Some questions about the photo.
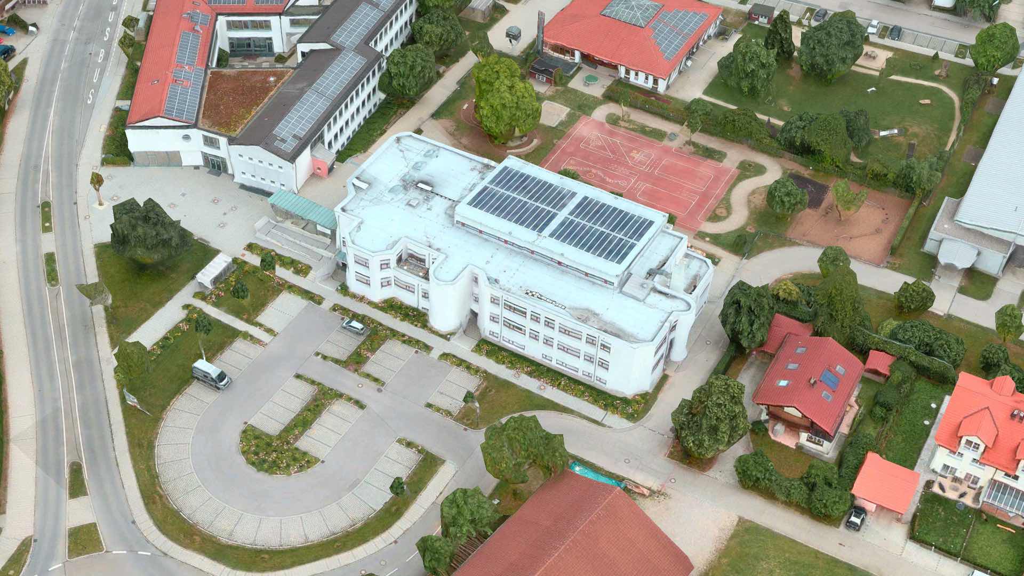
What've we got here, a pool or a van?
van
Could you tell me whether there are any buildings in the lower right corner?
Yes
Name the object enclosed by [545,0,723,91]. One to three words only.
building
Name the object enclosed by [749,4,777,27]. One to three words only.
shed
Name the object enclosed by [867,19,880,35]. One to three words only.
vehicle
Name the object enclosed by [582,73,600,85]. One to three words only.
umbrella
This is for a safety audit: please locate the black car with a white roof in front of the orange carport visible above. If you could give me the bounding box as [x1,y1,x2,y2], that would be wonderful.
[848,503,867,533]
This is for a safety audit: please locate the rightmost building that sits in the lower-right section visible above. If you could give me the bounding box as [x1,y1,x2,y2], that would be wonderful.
[927,373,1024,513]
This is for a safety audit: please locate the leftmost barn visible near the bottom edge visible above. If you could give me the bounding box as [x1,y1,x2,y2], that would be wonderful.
[462,470,692,576]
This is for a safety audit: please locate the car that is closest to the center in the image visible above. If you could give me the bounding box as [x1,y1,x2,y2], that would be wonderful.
[338,319,370,338]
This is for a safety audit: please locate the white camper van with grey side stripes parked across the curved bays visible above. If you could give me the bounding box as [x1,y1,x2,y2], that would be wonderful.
[189,358,233,392]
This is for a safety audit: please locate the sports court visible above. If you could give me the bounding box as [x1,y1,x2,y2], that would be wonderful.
[534,116,739,233]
